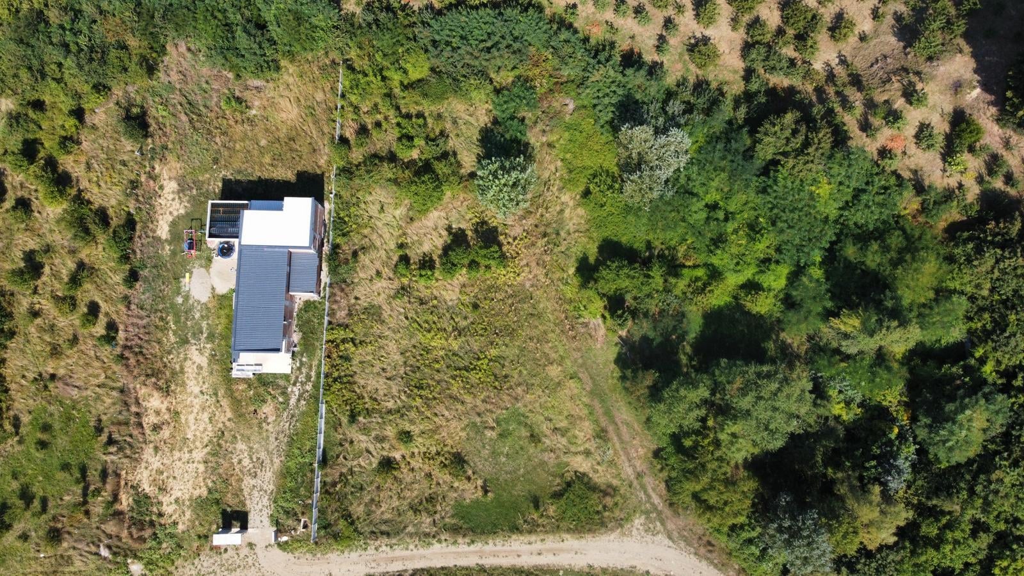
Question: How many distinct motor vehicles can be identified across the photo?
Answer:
0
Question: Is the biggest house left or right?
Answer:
left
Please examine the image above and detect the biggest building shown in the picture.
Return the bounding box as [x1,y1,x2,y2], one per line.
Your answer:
[206,197,326,374]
